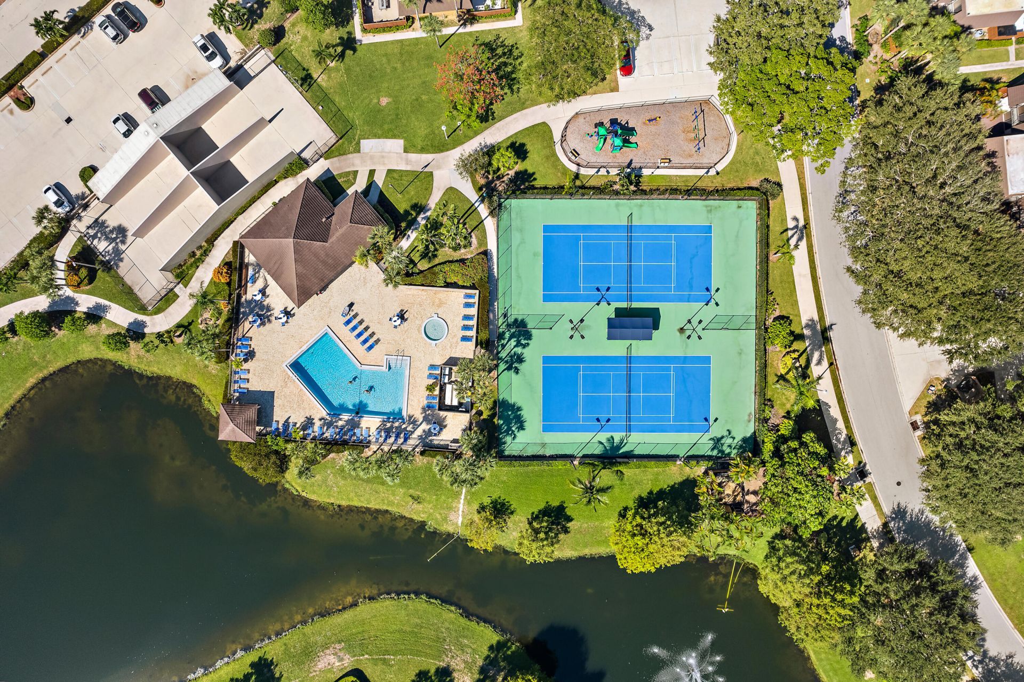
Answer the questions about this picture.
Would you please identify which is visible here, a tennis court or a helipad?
tennis court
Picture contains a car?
Yes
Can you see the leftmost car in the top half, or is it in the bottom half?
top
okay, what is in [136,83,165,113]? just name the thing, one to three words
car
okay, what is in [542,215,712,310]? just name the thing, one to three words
tennis court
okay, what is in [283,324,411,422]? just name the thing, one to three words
swimming pool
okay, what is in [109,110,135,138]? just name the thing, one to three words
car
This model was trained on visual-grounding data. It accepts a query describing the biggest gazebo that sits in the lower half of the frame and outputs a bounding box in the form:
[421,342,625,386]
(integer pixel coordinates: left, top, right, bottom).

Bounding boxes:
[217,403,262,443]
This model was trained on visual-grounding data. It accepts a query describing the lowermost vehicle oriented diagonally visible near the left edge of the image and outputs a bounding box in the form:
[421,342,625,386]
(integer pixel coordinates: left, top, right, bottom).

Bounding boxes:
[42,182,73,213]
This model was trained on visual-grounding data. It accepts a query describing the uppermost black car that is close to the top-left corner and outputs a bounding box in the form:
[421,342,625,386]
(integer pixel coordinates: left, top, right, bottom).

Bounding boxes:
[111,1,144,35]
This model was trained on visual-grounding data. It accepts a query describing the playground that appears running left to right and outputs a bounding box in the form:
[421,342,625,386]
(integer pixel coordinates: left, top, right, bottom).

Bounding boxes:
[563,99,732,167]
